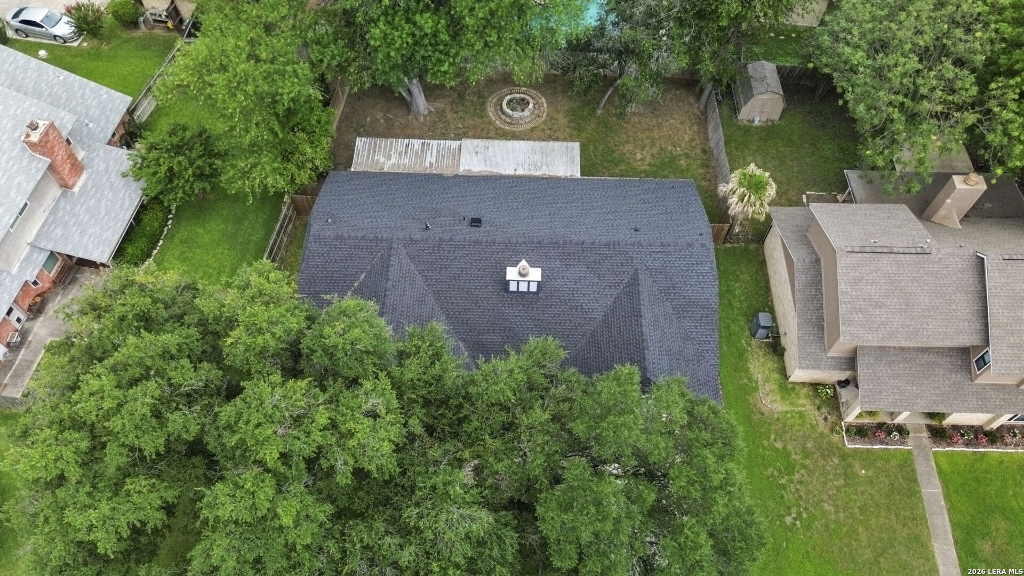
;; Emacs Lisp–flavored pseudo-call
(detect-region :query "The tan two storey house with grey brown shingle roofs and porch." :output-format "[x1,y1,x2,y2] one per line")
[765,173,1024,430]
